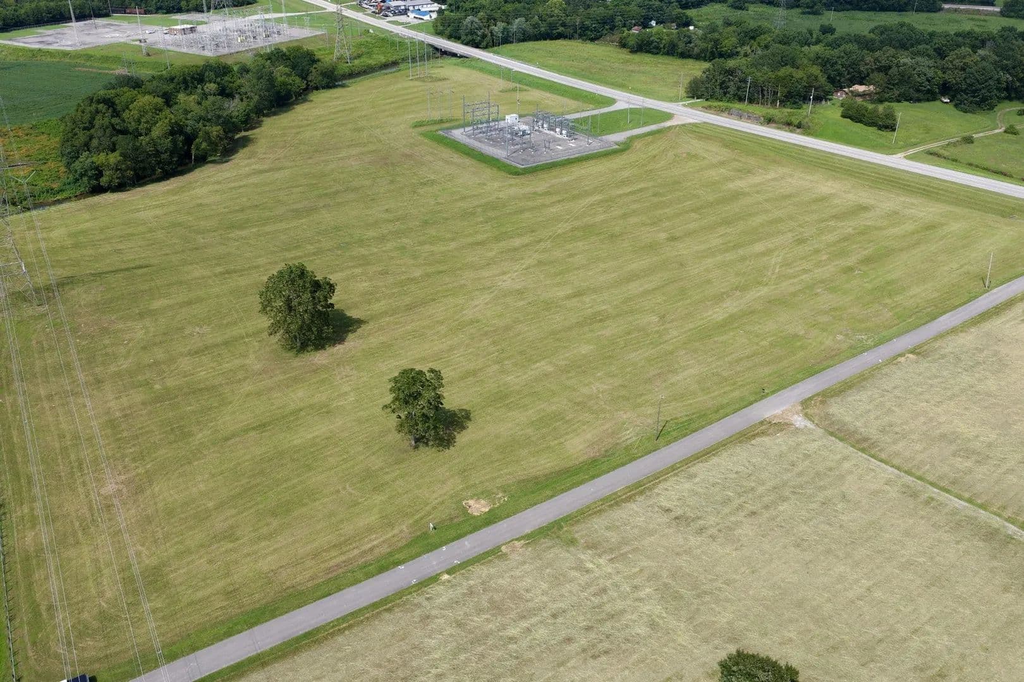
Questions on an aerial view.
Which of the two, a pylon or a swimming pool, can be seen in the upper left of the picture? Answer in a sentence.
It is a pylon that can be seen in the upper left of the picture.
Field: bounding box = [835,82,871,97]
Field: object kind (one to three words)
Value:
house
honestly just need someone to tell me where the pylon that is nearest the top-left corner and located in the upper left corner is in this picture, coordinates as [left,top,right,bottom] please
[62,0,82,44]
